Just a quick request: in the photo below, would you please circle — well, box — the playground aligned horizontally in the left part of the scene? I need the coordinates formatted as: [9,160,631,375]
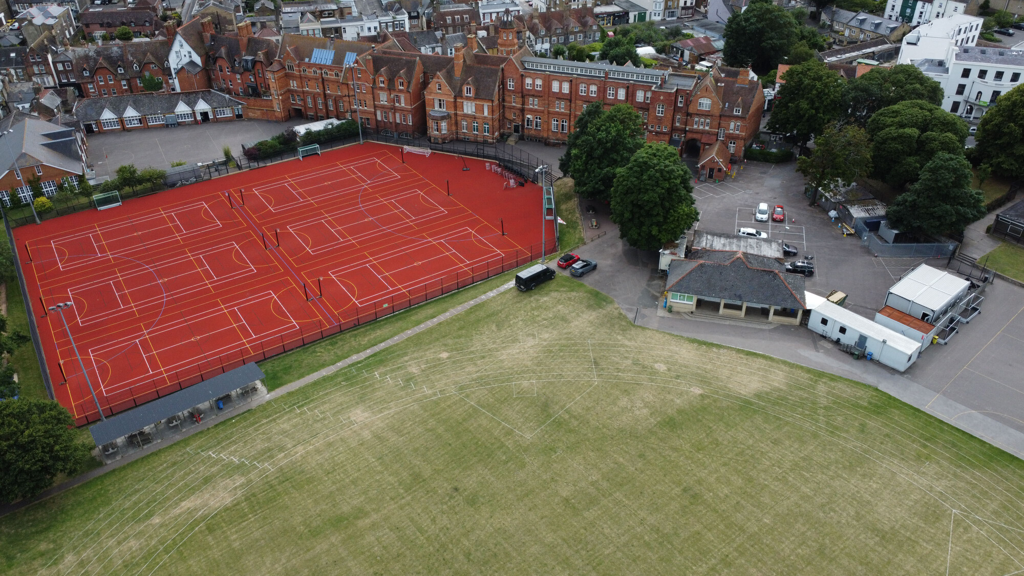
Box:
[85,118,377,192]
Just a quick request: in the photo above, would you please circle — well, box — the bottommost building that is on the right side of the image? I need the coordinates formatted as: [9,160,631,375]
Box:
[808,302,924,370]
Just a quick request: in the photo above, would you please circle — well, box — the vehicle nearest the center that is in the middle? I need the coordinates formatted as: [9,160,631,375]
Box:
[512,261,553,288]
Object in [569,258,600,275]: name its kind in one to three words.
car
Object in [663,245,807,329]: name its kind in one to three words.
building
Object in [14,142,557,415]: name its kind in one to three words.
sports court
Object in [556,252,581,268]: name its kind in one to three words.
car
